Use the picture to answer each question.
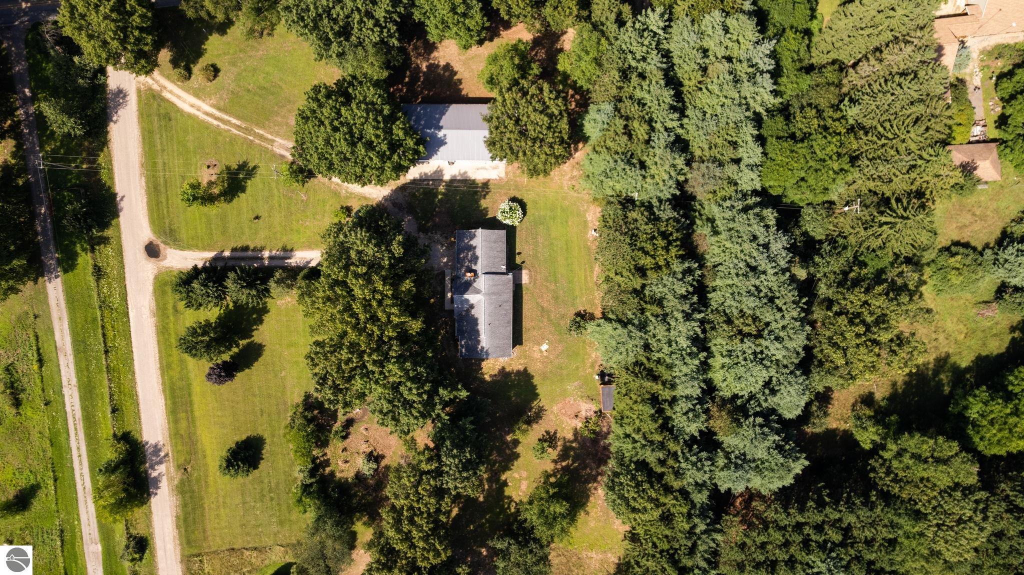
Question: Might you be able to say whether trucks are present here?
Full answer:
No, the scene contains no truck.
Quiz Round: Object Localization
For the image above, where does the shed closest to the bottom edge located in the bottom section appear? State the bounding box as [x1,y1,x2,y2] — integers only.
[601,385,616,412]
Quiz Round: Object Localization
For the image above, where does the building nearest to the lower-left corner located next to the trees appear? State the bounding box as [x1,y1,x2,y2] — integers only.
[453,229,513,359]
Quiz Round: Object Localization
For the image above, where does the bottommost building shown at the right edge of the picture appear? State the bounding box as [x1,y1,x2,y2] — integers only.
[940,143,1002,182]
